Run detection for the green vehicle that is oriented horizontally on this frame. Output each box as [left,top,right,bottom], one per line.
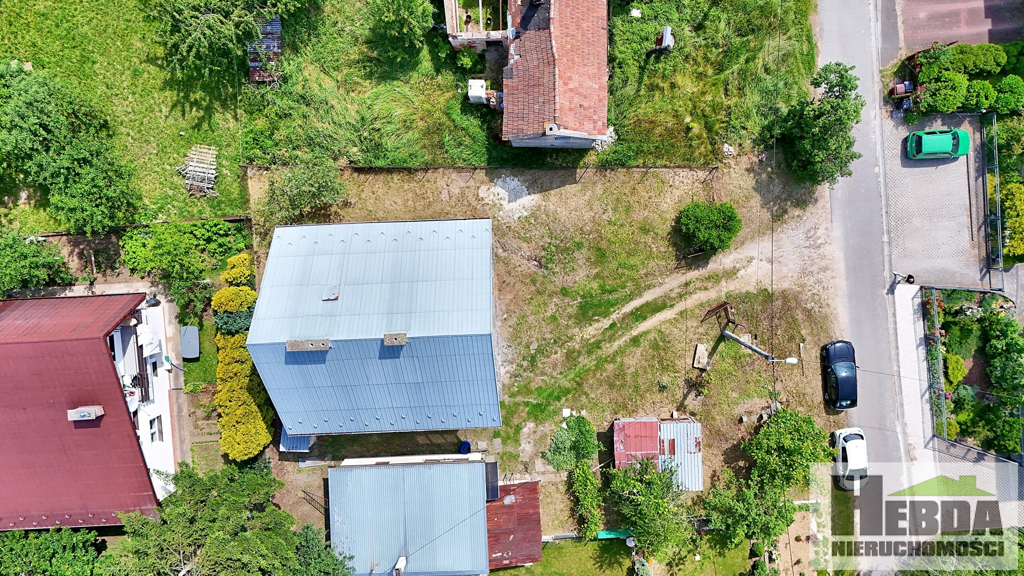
[905,126,972,160]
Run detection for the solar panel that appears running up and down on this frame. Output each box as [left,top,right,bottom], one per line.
[485,450,501,500]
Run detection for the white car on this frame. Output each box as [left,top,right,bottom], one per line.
[833,427,871,490]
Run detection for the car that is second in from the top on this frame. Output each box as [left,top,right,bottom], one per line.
[819,341,857,410]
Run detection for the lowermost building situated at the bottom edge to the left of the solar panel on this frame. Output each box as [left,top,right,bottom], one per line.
[327,455,490,576]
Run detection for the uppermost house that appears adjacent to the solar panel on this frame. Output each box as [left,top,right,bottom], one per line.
[245,215,501,438]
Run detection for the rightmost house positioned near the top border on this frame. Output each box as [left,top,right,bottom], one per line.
[446,0,609,149]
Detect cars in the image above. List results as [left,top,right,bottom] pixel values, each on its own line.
[833,427,871,490]
[905,126,972,160]
[819,341,857,410]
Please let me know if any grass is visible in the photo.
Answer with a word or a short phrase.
Yes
